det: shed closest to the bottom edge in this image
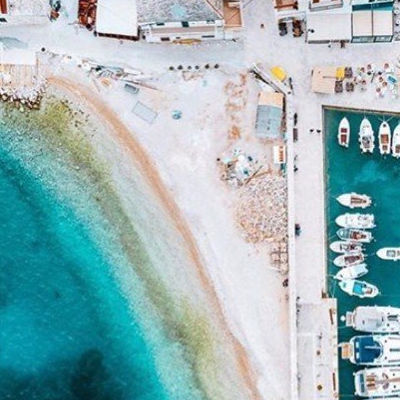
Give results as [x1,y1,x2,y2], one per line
[256,92,283,143]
